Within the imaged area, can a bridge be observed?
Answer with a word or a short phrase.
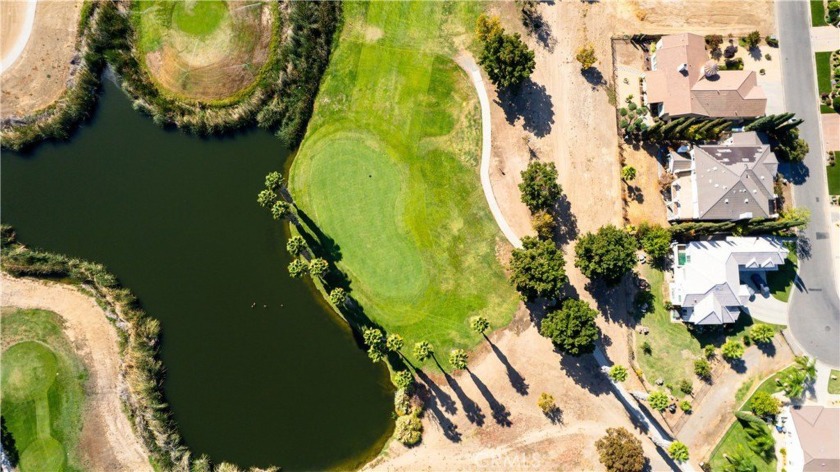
No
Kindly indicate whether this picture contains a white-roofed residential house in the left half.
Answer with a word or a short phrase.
No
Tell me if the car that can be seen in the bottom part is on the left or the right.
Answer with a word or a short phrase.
right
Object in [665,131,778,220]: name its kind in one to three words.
house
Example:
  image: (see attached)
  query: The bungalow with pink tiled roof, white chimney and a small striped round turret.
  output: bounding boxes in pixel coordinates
[641,32,767,117]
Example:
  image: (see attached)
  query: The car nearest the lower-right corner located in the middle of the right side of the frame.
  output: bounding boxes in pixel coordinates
[751,273,771,296]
